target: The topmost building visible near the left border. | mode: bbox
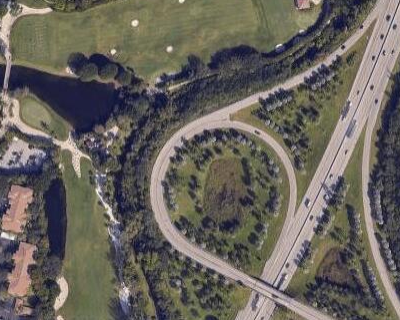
[3,185,33,232]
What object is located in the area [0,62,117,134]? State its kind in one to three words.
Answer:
pond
